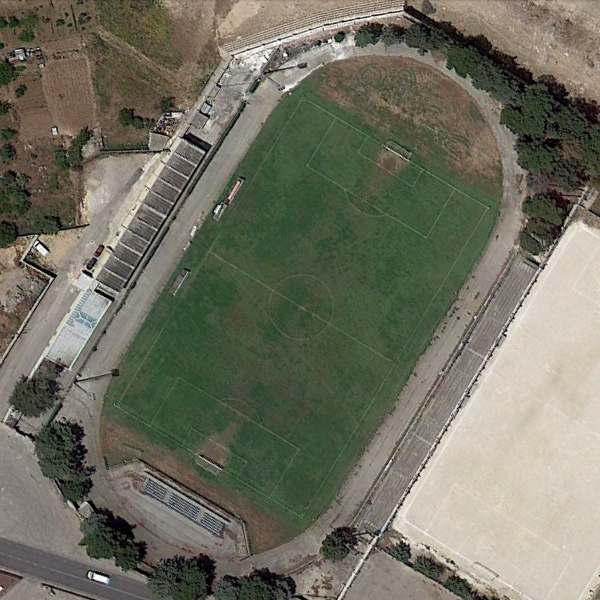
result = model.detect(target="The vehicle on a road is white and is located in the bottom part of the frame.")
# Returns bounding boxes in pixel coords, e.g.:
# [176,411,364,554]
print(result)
[89,571,108,584]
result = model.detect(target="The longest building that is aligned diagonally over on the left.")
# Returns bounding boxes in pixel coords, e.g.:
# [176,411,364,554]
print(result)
[44,287,112,370]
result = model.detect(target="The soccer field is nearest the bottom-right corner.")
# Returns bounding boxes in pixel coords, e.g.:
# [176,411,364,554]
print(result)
[385,222,600,600]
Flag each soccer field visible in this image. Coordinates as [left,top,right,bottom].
[385,222,600,600]
[101,53,503,556]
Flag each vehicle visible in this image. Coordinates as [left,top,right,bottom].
[86,256,97,271]
[93,243,104,258]
[32,240,50,257]
[89,571,108,584]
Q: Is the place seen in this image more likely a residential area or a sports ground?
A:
sports ground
